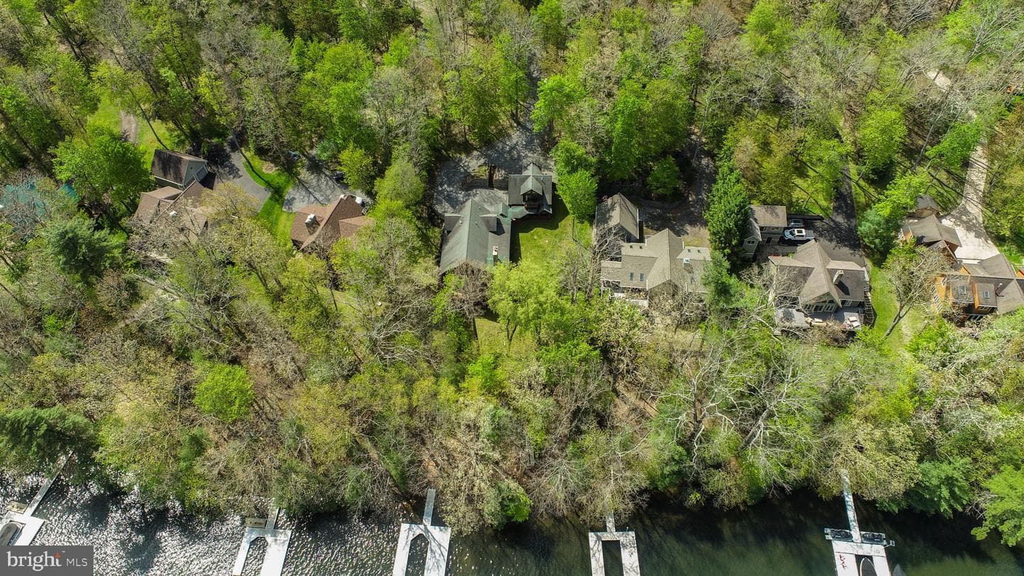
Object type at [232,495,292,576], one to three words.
pier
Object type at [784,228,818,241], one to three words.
vehicle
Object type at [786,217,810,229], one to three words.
vehicle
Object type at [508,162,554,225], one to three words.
building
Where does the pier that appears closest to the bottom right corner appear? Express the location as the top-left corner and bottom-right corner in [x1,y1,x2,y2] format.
[831,482,891,576]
